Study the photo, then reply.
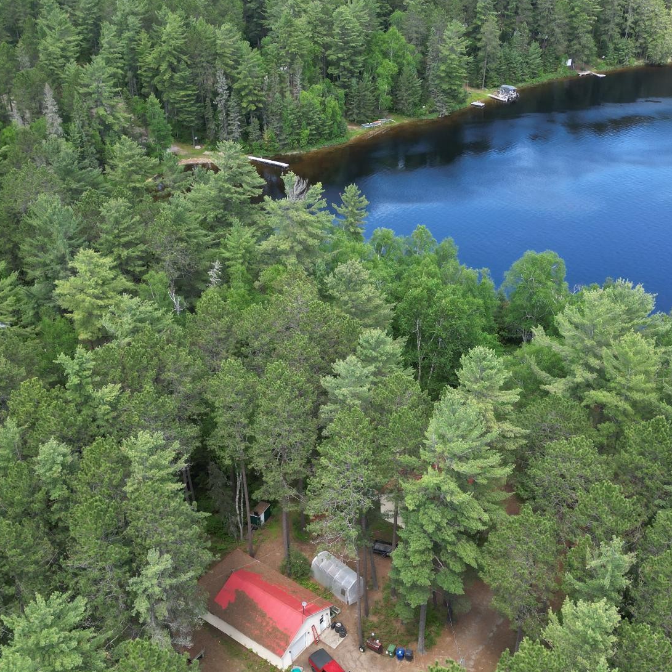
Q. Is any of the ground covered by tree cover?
Yes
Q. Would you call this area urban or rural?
rural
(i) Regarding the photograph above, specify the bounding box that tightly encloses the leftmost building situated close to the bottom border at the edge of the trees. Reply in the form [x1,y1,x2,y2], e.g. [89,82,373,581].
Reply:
[189,548,336,671]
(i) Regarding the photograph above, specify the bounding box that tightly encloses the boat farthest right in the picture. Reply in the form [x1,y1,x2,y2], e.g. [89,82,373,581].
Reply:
[496,88,518,100]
